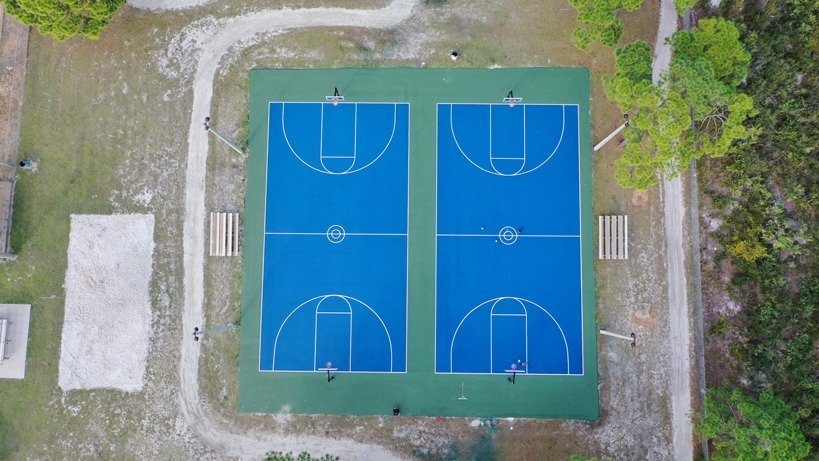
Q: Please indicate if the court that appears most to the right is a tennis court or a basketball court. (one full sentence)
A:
The court that appears most to the right is a basketball court.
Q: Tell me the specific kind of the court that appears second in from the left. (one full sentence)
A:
The court that appears second in from the left can be classified as a basketball court.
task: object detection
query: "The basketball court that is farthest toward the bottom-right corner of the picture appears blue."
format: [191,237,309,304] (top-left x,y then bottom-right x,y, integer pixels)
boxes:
[435,103,584,375]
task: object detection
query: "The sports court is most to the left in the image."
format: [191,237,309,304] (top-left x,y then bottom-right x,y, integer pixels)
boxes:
[59,212,156,391]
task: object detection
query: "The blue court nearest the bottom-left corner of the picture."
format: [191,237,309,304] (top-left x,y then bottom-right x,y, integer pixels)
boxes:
[259,102,410,373]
